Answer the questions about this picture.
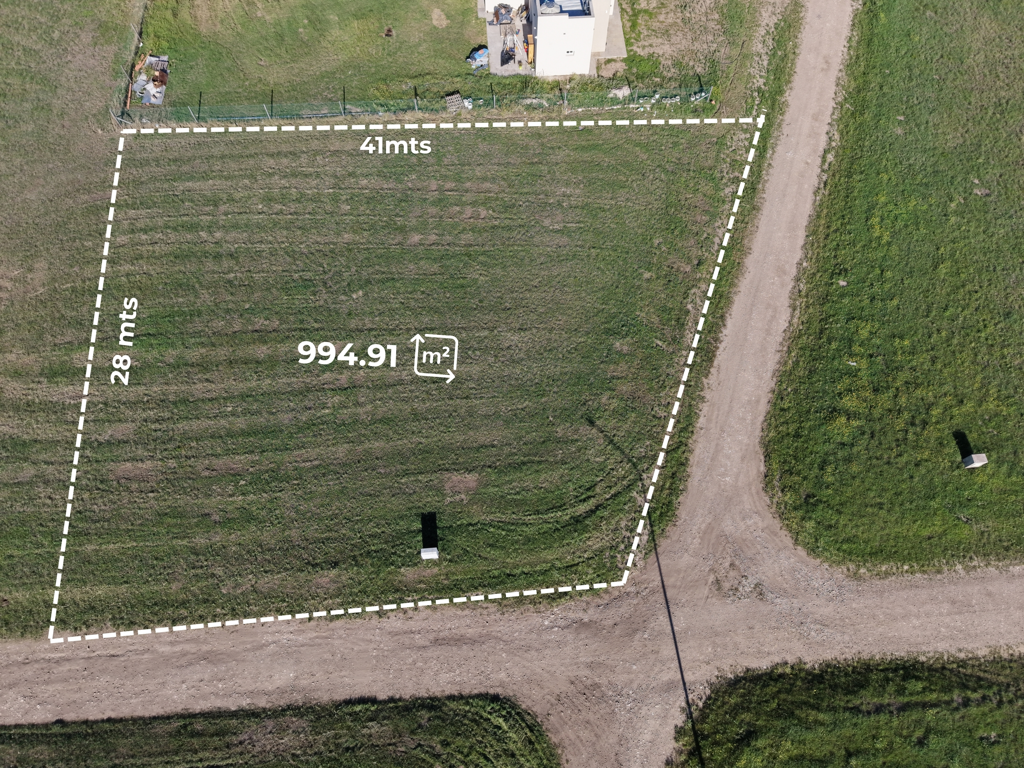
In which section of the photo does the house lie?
top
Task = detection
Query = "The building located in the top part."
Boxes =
[485,0,614,75]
